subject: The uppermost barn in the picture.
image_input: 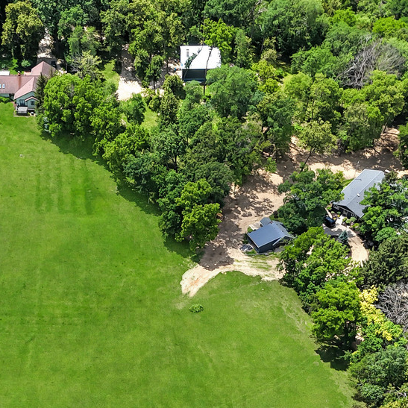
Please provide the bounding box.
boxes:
[179,47,222,82]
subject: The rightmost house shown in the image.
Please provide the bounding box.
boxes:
[334,169,388,220]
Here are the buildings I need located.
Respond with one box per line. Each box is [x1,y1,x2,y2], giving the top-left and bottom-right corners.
[246,220,289,254]
[179,47,222,82]
[0,61,57,113]
[334,169,388,220]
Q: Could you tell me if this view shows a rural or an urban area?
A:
rural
